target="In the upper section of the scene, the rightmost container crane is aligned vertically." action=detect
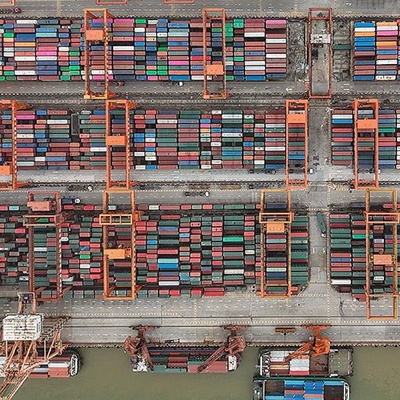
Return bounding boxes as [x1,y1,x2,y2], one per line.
[346,96,379,189]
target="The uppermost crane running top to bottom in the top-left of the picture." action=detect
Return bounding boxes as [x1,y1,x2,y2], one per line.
[84,8,122,100]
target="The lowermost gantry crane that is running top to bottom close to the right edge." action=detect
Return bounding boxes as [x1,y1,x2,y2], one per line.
[357,189,400,319]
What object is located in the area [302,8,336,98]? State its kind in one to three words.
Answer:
container crane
